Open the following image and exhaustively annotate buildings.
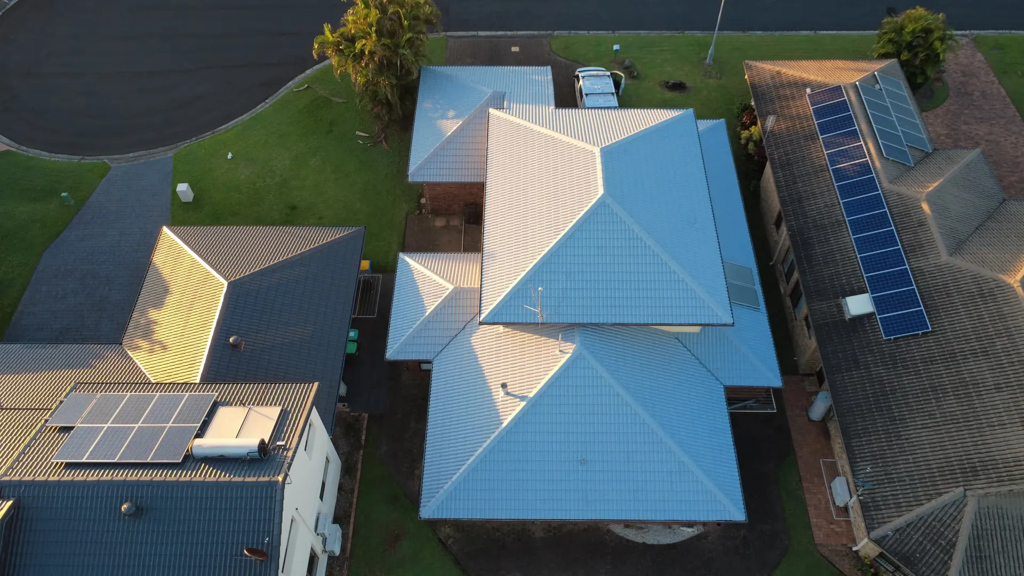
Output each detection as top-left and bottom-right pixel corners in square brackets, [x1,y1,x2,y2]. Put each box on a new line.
[383,64,786,531]
[742,58,1024,576]
[0,224,369,576]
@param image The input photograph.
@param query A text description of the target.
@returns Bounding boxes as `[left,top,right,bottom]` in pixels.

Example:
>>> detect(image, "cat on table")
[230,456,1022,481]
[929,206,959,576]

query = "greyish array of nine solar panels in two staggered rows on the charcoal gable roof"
[36,392,224,461]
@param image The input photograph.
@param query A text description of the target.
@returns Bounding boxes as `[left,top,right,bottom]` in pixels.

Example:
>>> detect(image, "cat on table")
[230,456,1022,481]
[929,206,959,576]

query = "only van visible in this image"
[573,67,623,107]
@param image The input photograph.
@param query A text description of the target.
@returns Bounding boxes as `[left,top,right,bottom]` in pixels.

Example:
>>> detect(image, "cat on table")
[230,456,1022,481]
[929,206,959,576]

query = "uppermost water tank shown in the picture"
[801,396,830,428]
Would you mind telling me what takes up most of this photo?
buildings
